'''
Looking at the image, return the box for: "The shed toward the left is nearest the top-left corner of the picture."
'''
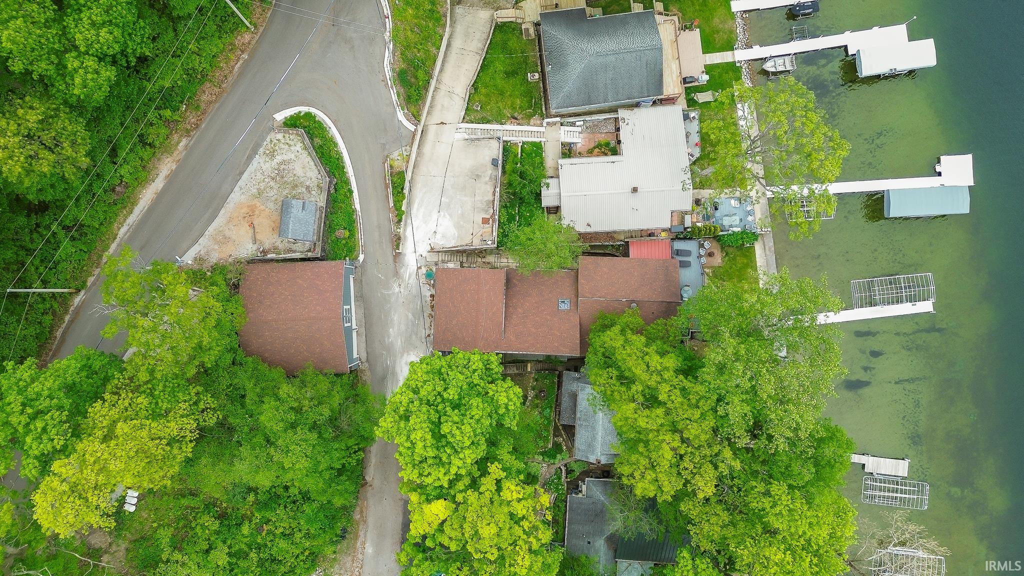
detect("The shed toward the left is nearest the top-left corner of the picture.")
[279,199,320,242]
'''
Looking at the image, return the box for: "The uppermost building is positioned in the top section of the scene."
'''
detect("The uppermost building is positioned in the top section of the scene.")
[540,6,664,114]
